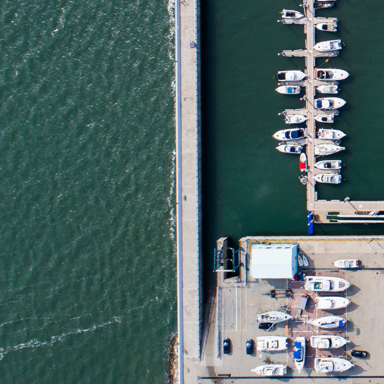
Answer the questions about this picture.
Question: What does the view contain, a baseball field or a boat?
boat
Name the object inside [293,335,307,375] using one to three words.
boat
